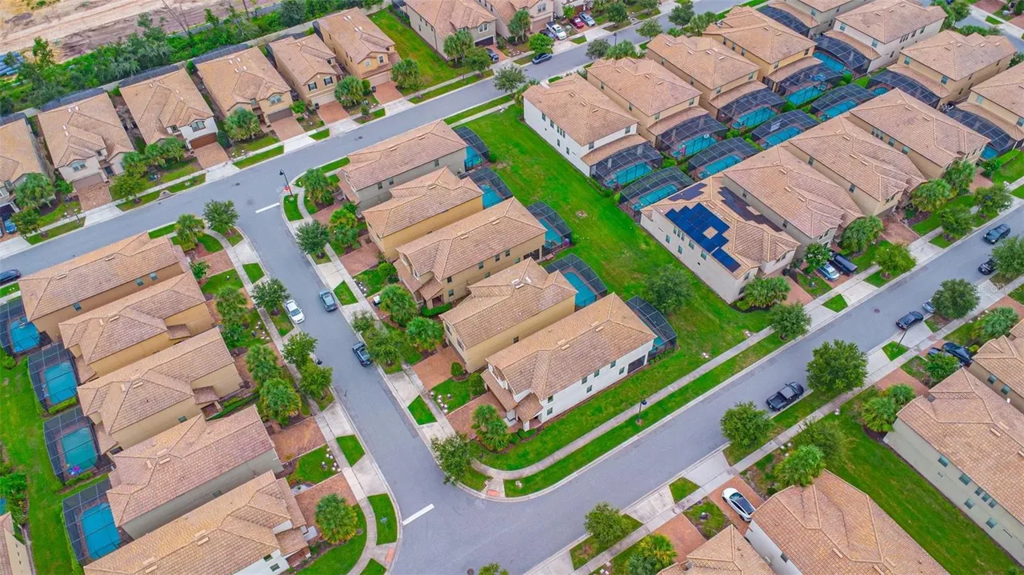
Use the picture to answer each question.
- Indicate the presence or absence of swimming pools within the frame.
Yes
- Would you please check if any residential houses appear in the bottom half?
Yes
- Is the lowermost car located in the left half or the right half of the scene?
right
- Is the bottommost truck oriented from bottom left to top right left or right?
right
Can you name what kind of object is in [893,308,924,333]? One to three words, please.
car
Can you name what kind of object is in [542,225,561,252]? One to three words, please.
swimming pool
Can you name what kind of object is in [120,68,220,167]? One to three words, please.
house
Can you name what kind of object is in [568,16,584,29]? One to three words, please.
vehicle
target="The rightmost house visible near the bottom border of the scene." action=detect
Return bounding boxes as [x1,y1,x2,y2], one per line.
[885,366,1024,559]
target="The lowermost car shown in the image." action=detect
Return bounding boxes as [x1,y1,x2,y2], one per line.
[719,483,759,524]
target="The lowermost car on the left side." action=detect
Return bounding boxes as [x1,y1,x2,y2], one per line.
[351,343,375,370]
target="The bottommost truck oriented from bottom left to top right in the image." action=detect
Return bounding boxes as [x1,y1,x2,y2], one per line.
[761,380,805,414]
